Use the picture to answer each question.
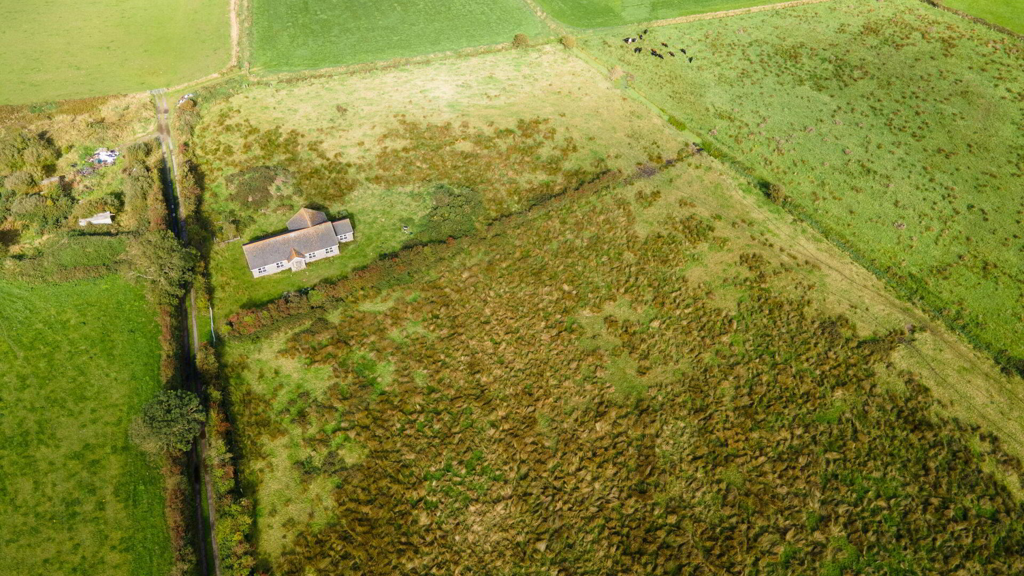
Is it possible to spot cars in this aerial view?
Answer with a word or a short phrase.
No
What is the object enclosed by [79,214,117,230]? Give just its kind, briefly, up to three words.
shed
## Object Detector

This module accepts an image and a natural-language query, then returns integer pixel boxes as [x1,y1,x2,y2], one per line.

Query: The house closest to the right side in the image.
[243,207,354,278]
